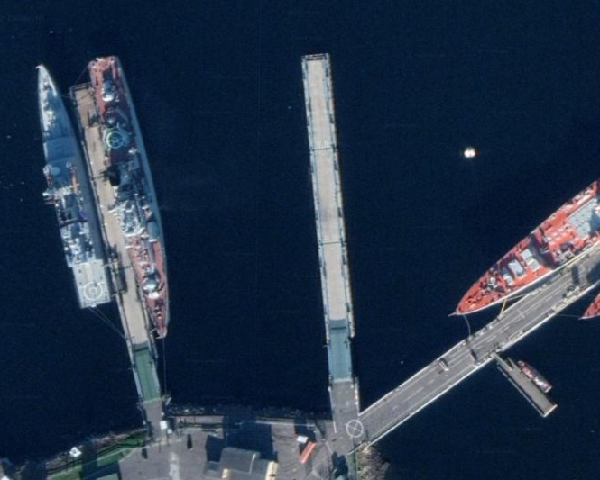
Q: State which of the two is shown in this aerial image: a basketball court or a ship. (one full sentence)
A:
I can see a ship in this picture.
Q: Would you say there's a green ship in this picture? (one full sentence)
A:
No, the scene contains no green ship.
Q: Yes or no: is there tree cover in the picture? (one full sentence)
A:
No, the picture contains no tree cover.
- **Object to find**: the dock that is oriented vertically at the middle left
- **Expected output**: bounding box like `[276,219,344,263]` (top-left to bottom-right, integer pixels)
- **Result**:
[72,82,168,443]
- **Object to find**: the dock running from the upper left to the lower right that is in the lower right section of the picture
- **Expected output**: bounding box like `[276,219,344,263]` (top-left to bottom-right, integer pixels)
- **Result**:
[494,355,559,419]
